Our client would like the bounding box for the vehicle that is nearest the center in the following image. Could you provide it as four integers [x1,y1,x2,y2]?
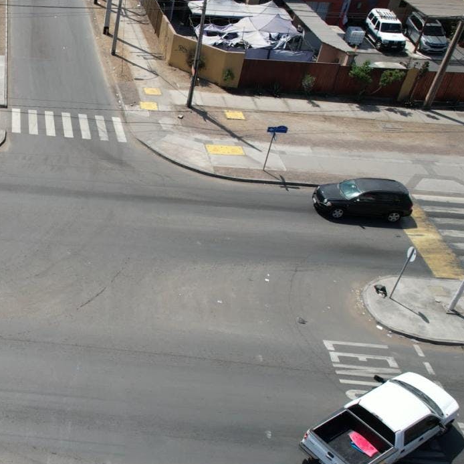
[314,176,420,223]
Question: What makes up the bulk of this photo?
paved ground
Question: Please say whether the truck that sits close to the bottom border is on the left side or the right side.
right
